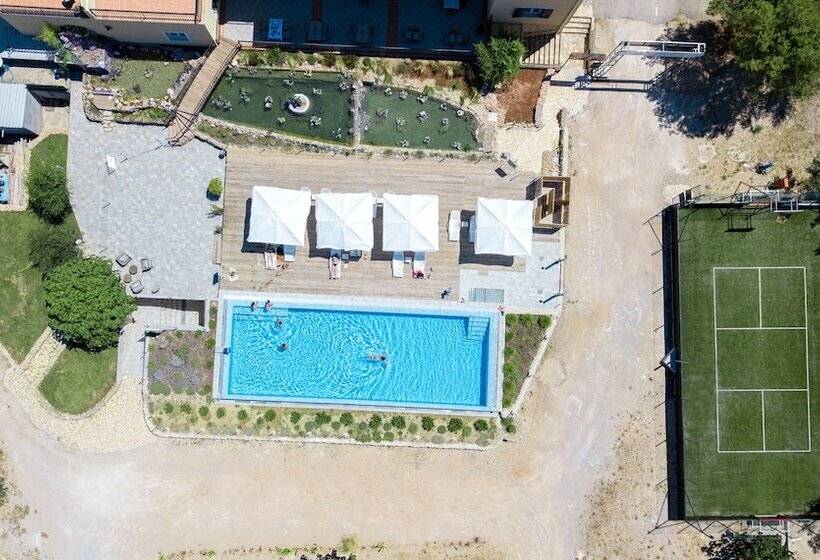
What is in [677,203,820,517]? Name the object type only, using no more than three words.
sports court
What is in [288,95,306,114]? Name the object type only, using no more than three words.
fountain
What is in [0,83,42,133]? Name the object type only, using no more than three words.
shed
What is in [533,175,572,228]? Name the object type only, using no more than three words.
building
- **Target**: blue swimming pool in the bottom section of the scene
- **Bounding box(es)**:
[212,290,504,415]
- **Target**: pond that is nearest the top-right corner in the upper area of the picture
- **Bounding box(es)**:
[360,86,478,149]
